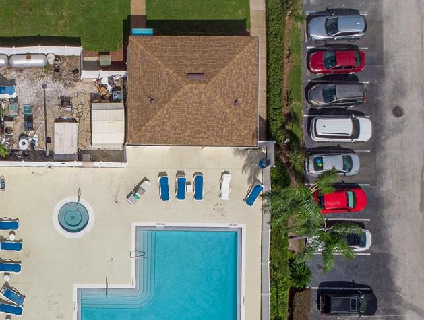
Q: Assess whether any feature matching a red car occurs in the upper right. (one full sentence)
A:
Yes, there is a red car in the upper right.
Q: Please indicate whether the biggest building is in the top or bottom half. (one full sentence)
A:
The biggest building sits in the top half of the picture.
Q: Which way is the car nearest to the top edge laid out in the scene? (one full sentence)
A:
The car nearest to the top edge is oriented from left to right.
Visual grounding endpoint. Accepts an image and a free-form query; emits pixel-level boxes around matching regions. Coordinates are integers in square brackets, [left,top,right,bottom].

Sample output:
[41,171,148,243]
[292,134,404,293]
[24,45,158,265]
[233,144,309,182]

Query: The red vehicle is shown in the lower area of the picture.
[310,187,367,215]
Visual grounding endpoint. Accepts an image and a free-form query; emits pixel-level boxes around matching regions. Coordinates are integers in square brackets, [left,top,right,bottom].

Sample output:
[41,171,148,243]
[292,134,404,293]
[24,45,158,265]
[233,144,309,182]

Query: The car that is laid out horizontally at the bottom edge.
[316,287,377,316]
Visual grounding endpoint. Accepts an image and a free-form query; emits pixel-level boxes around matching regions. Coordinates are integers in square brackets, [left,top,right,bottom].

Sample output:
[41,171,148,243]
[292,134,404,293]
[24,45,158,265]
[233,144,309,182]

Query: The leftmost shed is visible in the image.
[55,122,78,160]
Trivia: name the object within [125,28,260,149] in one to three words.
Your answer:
building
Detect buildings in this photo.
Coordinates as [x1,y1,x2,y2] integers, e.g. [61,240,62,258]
[125,28,260,149]
[55,122,78,160]
[92,103,124,153]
